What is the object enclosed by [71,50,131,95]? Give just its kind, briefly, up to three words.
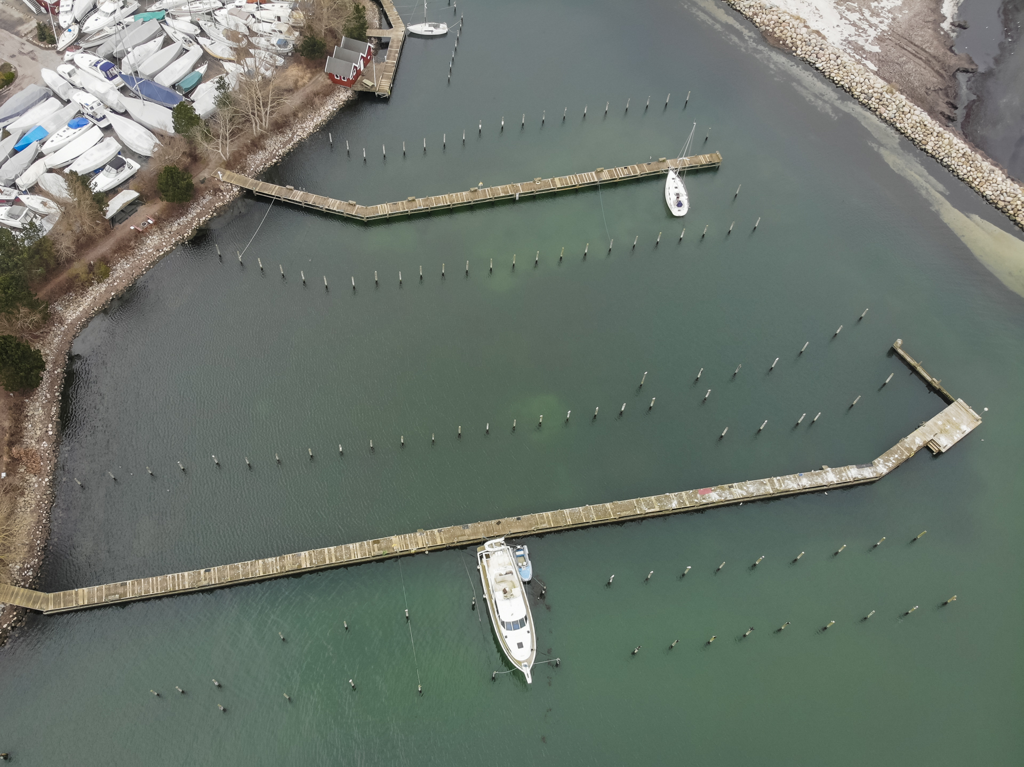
boat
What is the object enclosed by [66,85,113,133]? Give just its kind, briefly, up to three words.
boat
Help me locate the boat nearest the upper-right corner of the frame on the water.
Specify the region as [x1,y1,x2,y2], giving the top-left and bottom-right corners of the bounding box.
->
[664,126,692,219]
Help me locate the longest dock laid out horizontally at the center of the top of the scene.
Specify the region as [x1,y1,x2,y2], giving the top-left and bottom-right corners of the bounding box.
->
[212,150,722,224]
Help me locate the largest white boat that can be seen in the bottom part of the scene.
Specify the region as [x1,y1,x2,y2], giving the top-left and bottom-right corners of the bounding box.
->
[474,536,538,683]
